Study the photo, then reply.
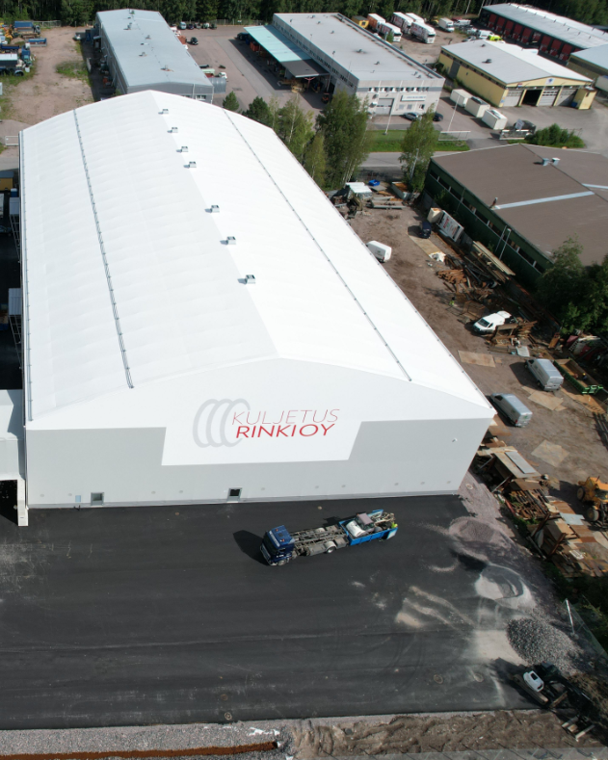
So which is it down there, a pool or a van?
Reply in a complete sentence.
This aerial view contains a van.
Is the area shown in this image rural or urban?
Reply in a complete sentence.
This place is urban.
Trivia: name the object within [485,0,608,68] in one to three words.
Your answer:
building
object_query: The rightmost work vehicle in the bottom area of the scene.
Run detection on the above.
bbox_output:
[569,473,608,515]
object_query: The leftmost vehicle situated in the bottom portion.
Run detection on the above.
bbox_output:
[259,521,351,564]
